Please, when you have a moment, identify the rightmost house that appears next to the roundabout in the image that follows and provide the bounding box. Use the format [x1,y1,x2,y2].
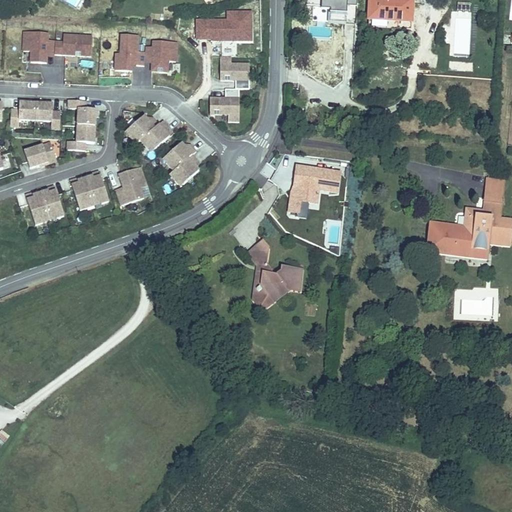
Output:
[288,163,340,218]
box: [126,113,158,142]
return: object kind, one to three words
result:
house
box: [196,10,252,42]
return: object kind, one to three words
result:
house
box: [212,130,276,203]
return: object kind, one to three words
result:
roundabout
